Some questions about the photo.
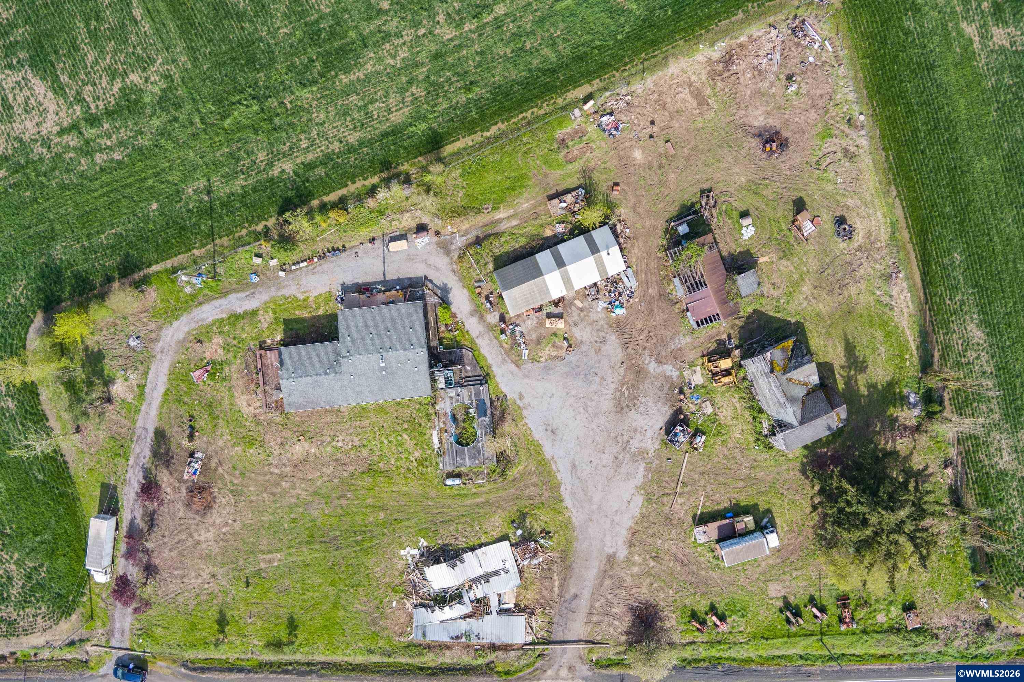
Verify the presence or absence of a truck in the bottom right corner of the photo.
Yes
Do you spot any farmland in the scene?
Yes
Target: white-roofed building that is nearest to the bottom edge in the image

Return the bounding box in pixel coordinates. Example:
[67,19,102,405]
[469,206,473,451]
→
[413,541,526,644]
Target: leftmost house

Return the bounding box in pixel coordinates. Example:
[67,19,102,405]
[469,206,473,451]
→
[278,300,432,413]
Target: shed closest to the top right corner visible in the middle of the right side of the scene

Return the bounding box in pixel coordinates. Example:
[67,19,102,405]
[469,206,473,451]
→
[732,269,760,296]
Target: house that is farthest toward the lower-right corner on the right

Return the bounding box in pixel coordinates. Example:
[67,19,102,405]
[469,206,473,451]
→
[740,335,847,452]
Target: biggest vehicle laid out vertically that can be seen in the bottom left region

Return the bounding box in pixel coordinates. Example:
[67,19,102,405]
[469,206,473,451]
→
[86,515,120,583]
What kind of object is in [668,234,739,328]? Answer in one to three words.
shed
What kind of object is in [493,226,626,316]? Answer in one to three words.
building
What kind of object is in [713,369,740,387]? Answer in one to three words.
work vehicle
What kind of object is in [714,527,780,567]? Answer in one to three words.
truck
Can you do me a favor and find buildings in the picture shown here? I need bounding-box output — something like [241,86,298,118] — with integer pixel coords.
[278,300,432,413]
[668,234,739,328]
[740,335,847,452]
[493,226,626,316]
[732,269,760,296]
[413,541,526,644]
